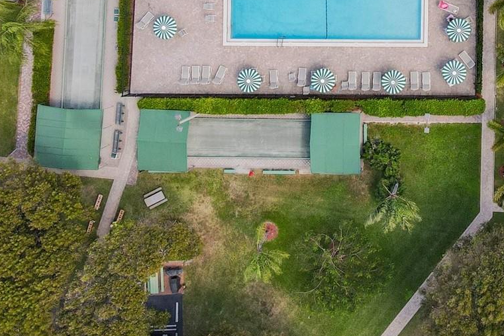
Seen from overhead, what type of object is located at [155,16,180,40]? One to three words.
umbrella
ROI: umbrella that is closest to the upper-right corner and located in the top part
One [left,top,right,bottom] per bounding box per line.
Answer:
[446,18,471,41]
